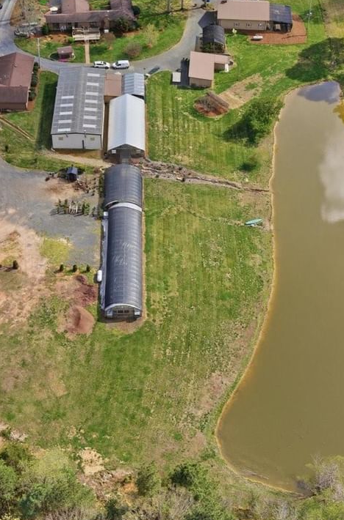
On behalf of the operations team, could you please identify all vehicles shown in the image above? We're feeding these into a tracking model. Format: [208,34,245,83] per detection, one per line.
[92,60,110,68]
[112,60,131,70]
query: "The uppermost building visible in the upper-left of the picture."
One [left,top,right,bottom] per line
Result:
[44,0,136,45]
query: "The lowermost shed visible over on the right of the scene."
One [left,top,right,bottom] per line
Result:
[188,48,229,86]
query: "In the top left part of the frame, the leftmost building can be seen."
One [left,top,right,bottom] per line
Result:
[0,50,34,110]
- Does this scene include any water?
Yes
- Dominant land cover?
grass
